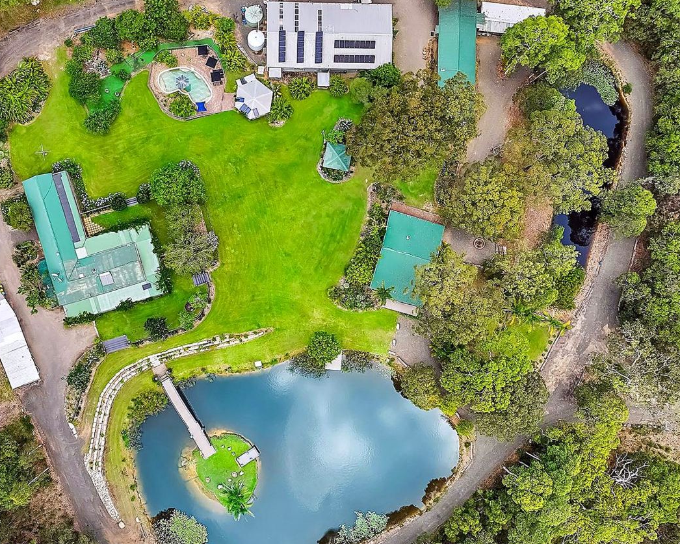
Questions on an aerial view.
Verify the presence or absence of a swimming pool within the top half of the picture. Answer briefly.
Yes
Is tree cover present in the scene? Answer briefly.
Yes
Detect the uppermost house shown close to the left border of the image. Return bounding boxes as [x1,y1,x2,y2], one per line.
[22,171,164,317]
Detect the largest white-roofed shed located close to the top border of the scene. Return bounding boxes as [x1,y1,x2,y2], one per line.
[263,1,392,89]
